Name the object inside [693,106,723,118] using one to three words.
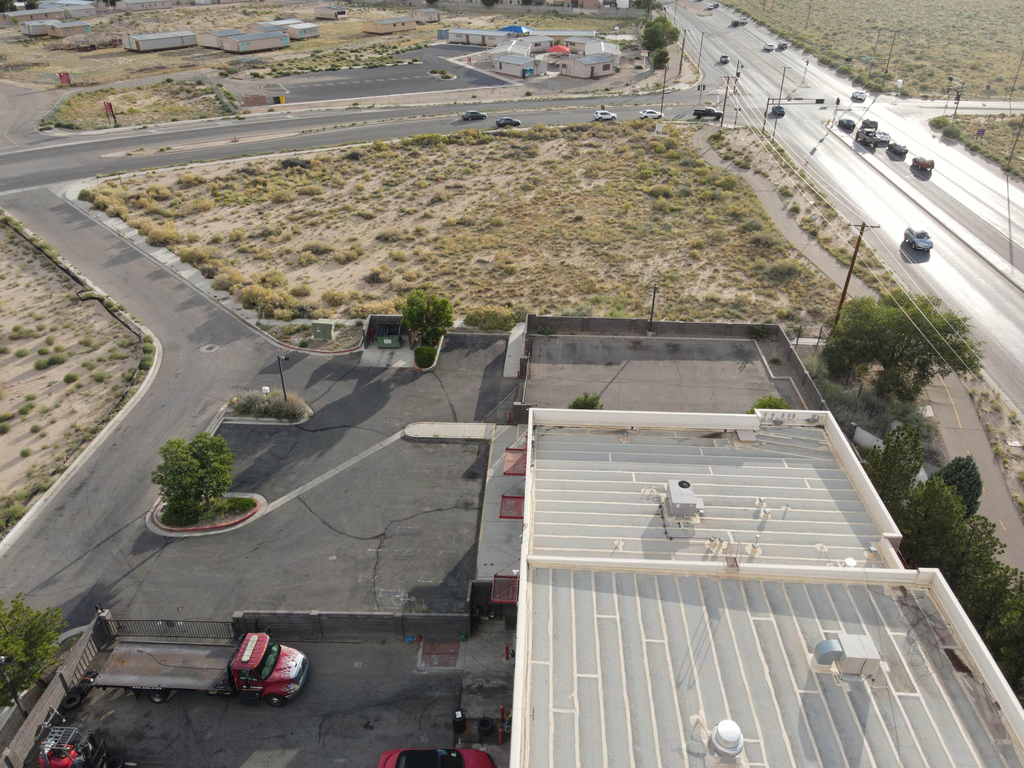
vehicle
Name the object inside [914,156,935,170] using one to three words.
car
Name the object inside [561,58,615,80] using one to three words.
building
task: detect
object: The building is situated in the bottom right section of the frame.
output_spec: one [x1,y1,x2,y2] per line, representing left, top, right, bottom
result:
[492,409,1024,768]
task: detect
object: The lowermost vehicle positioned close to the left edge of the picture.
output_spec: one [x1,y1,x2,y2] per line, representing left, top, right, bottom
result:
[34,726,125,768]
